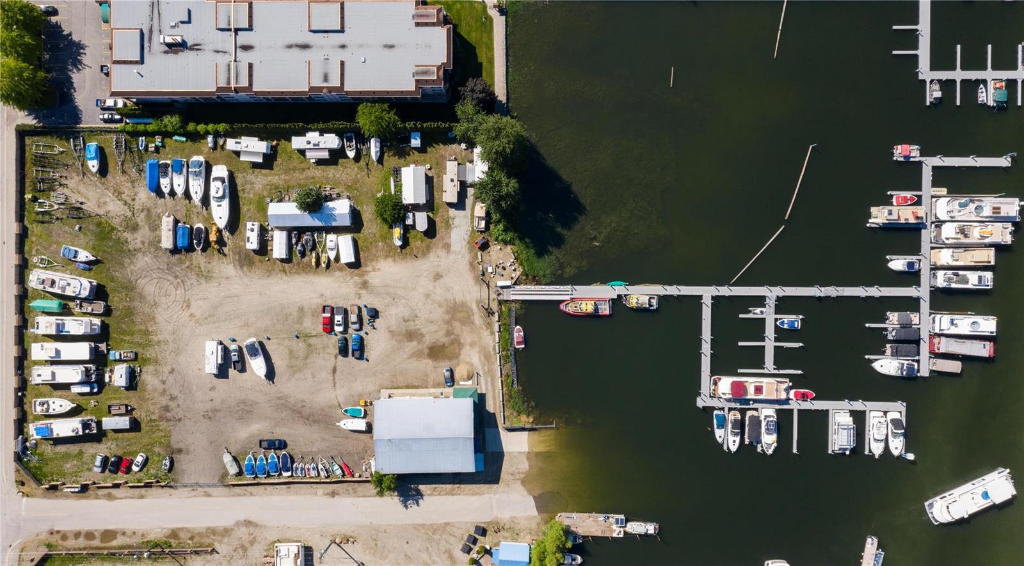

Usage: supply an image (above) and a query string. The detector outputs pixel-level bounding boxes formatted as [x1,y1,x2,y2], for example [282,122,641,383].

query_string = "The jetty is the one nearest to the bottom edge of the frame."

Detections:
[696,390,909,459]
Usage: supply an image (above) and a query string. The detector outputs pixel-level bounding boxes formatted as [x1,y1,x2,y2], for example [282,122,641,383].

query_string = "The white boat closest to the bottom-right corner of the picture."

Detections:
[922,468,1018,521]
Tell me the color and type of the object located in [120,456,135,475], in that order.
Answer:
red car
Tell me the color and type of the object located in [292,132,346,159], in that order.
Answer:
white trailer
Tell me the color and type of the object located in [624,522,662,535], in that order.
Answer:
white boat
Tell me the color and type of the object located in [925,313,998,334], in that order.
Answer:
white boat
